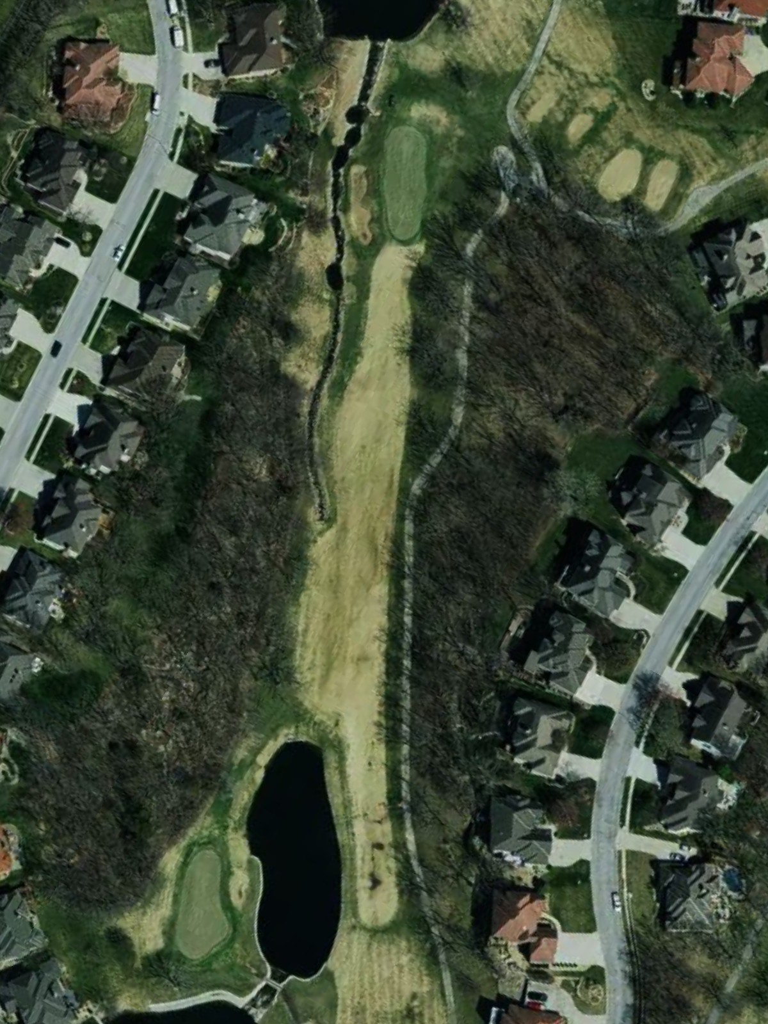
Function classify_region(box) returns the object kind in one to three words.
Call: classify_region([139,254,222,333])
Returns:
house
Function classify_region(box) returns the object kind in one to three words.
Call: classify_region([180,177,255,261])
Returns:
house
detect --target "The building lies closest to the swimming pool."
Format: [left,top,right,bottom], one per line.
[656,854,726,935]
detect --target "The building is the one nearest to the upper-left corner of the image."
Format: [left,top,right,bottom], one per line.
[59,38,125,118]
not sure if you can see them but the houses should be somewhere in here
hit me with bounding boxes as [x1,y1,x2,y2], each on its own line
[104,325,189,403]
[657,756,726,838]
[490,883,558,966]
[701,223,768,305]
[219,3,286,78]
[493,1007,566,1024]
[521,609,597,696]
[622,462,694,549]
[563,529,635,624]
[715,601,768,682]
[685,677,751,757]
[0,884,51,963]
[712,0,768,16]
[180,177,255,261]
[139,254,222,333]
[213,94,291,168]
[22,130,87,215]
[0,953,85,1024]
[668,393,742,481]
[656,854,726,935]
[491,796,551,864]
[685,22,755,97]
[68,404,150,480]
[0,549,68,632]
[506,698,573,778]
[0,281,24,359]
[0,209,67,293]
[39,474,112,561]
[0,635,45,712]
[59,38,125,118]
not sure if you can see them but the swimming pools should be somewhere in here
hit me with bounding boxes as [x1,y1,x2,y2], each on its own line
[723,868,741,893]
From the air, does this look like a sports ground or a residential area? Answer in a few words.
residential area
